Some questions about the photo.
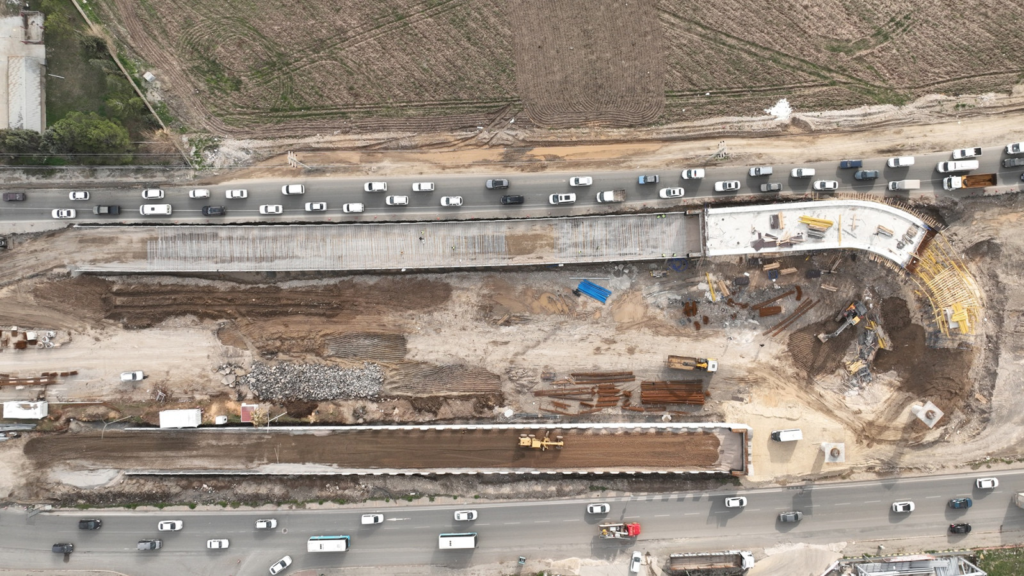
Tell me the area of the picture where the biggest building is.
top left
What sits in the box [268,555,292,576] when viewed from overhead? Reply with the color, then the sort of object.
white car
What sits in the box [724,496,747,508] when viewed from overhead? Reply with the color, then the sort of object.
white vehicle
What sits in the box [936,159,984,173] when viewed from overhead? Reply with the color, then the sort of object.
white vehicle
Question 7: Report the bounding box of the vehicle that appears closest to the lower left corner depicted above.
[52,542,75,554]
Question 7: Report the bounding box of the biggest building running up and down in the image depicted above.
[7,55,45,136]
